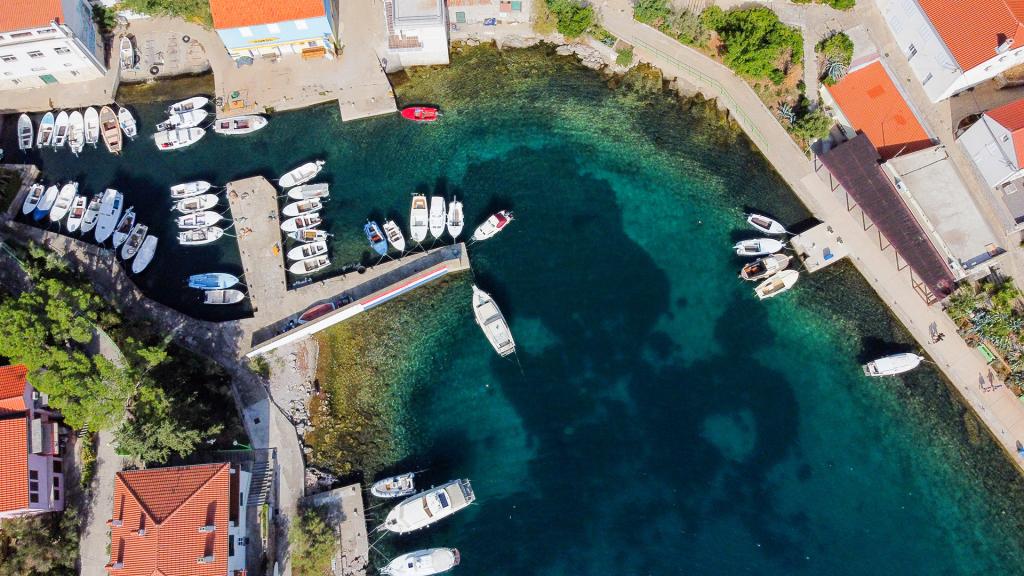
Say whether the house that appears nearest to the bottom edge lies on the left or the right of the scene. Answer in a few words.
left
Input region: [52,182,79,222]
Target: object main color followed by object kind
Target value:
white boat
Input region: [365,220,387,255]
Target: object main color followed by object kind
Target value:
blue boat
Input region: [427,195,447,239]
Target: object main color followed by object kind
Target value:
white boat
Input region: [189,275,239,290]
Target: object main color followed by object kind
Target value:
blue boat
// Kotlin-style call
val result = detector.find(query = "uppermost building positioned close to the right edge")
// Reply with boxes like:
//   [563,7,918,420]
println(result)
[876,0,1024,102]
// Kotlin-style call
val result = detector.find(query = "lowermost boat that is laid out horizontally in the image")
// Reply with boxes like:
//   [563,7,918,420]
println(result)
[376,544,464,576]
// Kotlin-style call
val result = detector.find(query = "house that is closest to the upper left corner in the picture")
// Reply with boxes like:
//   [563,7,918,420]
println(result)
[0,0,107,89]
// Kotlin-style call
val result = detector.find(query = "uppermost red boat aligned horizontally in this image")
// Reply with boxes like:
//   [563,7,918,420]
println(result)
[401,108,439,121]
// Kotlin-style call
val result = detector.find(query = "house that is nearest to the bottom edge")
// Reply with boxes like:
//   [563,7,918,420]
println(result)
[107,462,253,576]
